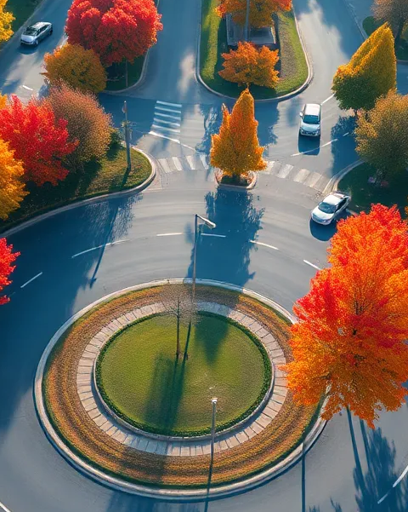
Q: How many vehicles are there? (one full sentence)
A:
In total, there are 3 vehicles in the scene.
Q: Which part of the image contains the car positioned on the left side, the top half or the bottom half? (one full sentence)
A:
The car positioned on the left side sits in the top half of the picture.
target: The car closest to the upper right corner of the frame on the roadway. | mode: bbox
[298,101,323,136]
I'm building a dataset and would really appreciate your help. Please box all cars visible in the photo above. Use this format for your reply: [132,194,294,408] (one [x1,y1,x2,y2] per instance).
[298,101,323,136]
[307,192,355,229]
[20,22,51,47]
